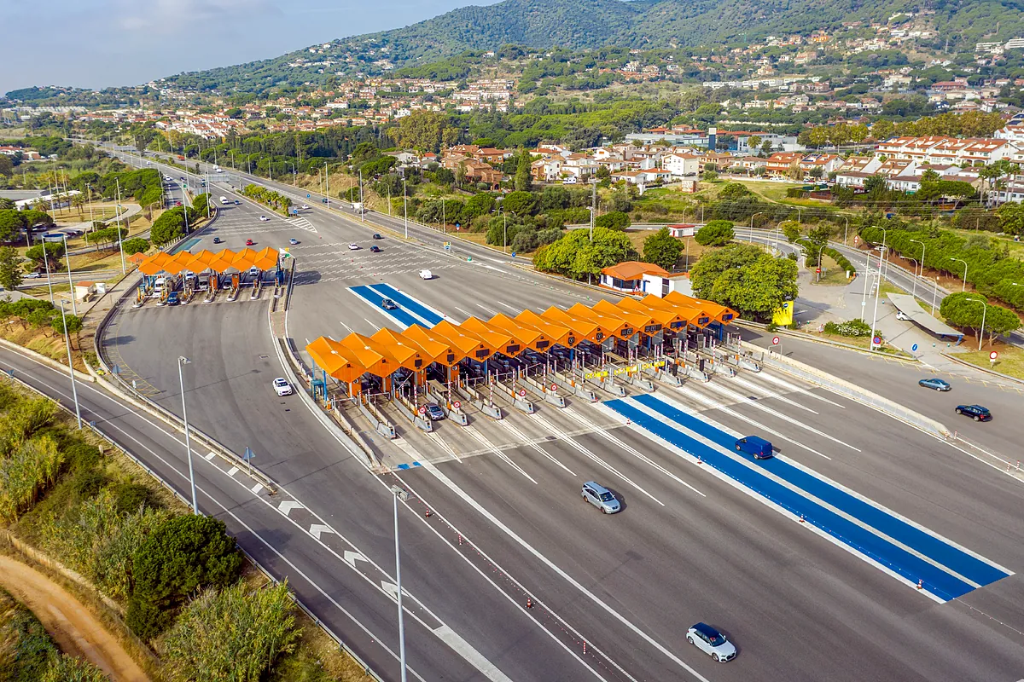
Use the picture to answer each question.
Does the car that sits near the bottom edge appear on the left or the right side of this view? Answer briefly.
right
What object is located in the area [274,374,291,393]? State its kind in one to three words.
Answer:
car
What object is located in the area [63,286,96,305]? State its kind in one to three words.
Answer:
shed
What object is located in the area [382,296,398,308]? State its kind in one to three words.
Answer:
vehicle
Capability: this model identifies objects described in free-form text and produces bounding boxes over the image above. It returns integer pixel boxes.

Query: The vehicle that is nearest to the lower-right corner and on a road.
[955,401,995,420]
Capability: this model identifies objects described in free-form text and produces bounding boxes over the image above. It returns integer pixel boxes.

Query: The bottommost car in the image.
[684,619,738,659]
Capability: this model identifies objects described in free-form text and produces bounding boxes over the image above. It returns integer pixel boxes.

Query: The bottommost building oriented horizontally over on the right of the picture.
[591,262,684,299]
